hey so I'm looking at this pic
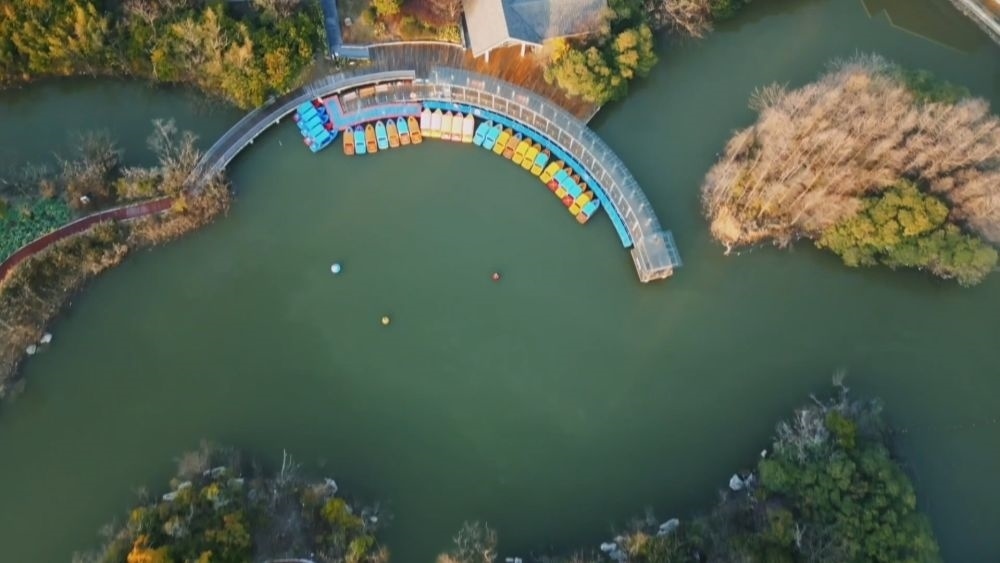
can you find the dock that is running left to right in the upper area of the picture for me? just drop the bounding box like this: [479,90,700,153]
[323,96,419,133]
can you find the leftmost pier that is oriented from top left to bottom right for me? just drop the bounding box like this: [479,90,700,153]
[346,63,690,282]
